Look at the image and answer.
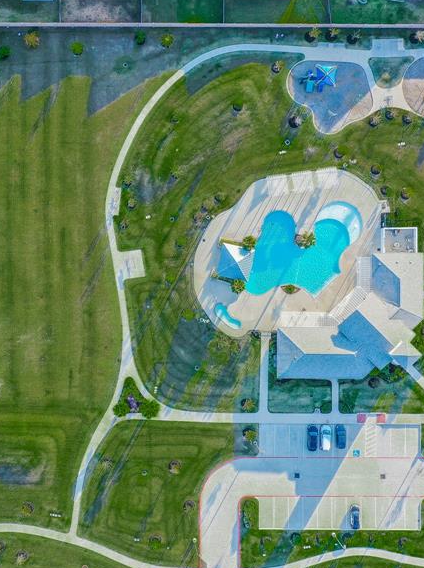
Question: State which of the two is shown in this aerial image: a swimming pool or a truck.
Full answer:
I can see a swimming pool in this picture.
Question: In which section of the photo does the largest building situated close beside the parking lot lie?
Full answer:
Look in the right portion of the view to spot the largest building situated close beside the parking lot.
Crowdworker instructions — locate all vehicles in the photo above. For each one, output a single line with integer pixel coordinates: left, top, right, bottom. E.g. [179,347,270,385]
[335,424,348,451]
[349,505,363,532]
[307,426,320,452]
[321,425,334,453]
